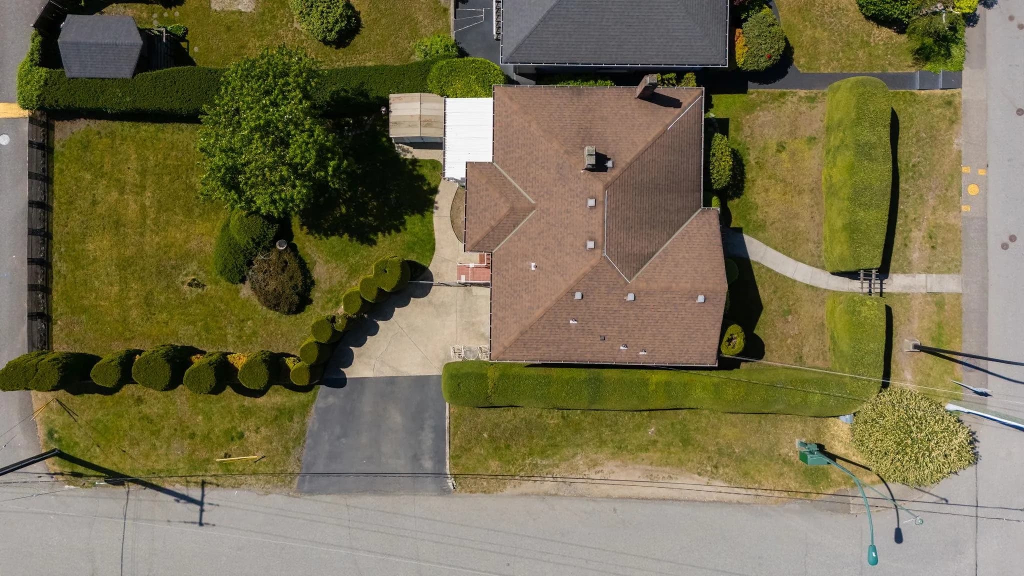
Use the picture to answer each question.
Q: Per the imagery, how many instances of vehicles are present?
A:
zero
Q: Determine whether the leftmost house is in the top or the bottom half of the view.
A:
top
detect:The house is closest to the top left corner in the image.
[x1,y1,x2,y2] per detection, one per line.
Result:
[57,14,151,78]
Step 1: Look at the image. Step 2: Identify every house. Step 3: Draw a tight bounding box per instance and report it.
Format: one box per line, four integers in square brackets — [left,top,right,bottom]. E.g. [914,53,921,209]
[57,14,151,78]
[462,72,731,365]
[498,0,731,71]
